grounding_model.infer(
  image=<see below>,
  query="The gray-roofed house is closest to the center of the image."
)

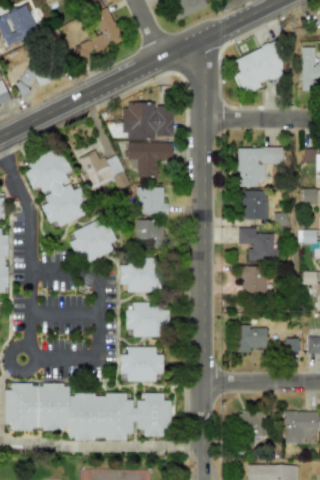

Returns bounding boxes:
[136,220,164,246]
